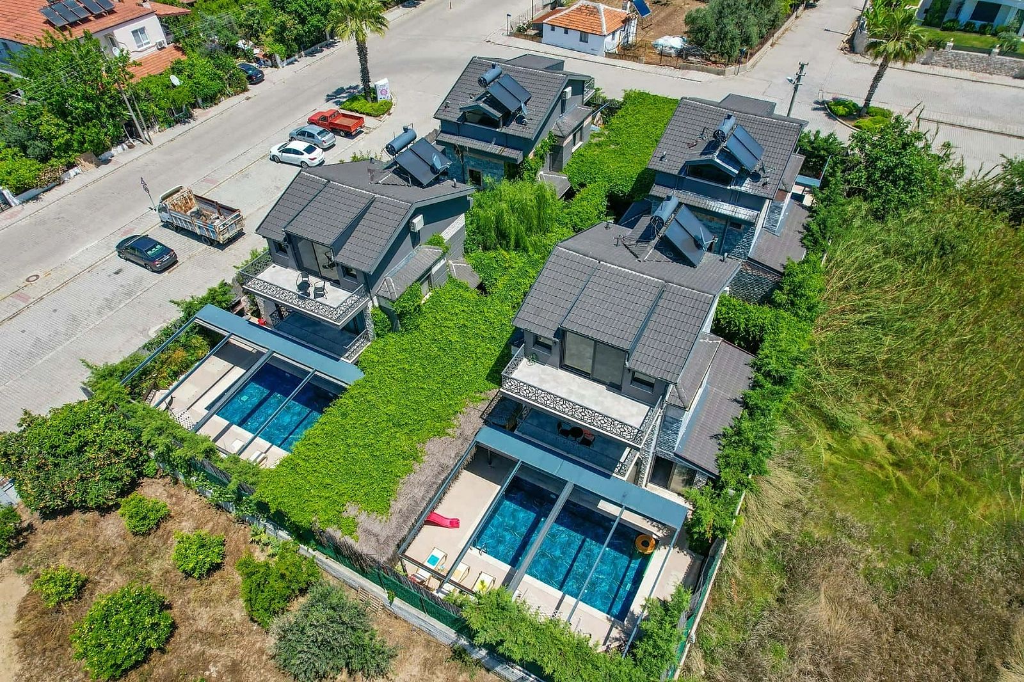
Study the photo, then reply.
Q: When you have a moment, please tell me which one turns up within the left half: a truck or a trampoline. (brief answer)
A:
truck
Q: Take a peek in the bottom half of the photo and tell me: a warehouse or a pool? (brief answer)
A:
pool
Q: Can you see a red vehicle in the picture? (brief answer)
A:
Yes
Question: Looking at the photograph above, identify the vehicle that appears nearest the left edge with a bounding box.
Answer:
[112,235,179,272]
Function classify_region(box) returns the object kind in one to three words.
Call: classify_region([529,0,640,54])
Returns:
house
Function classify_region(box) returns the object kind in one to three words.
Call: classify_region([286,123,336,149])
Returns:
car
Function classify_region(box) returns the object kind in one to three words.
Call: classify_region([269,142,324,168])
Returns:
car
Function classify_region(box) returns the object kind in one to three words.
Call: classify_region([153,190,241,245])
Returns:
truck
